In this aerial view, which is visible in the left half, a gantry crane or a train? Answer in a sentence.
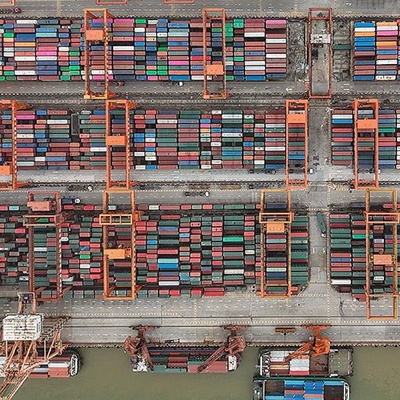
There is a gantry crane in the left half.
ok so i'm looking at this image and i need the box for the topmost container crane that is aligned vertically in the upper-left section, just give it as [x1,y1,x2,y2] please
[84,8,122,100]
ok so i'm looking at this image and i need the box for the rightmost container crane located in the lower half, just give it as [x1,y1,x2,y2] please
[357,189,400,319]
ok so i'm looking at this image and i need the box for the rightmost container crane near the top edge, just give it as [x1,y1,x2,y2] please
[302,8,336,98]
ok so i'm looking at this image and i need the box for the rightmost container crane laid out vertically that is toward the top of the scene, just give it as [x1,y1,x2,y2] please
[346,96,379,189]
